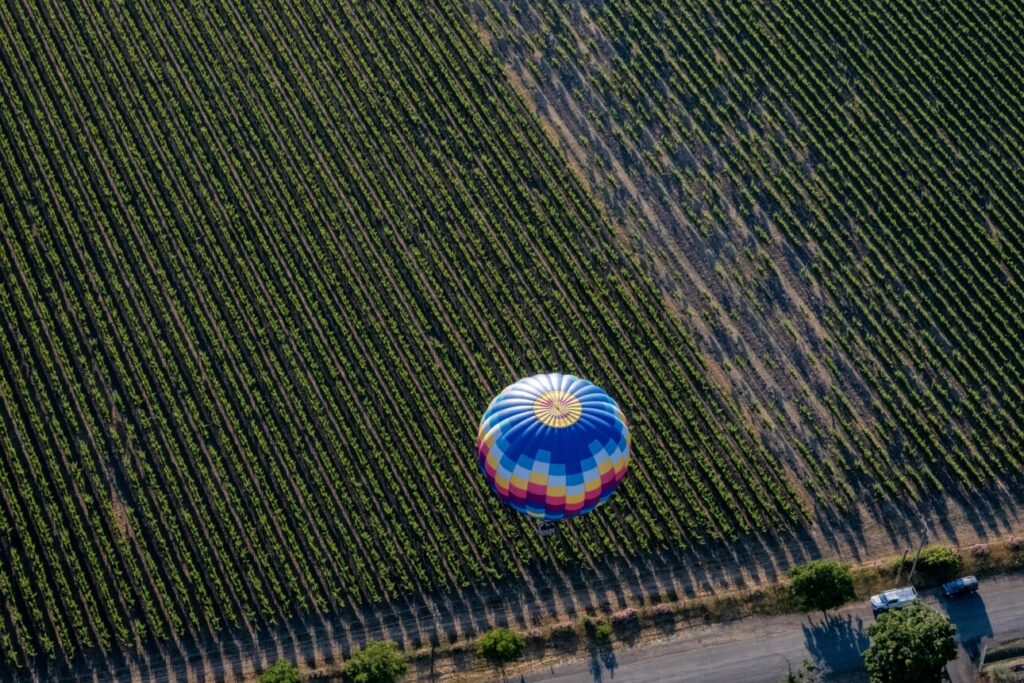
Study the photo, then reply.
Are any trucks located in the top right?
No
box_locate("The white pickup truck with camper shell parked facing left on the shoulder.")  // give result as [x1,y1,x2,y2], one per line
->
[867,588,920,615]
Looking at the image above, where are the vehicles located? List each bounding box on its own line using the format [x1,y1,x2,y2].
[867,588,920,615]
[940,577,982,601]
